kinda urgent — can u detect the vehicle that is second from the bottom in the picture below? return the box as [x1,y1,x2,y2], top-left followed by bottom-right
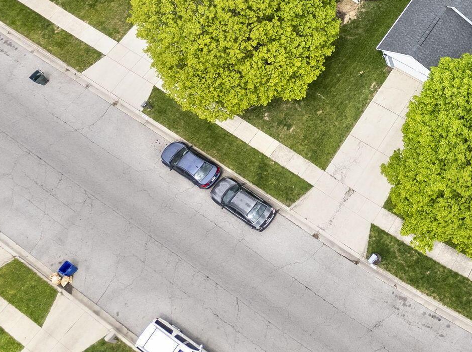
[210,172,282,238]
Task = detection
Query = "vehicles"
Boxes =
[135,319,207,352]
[210,172,282,238]
[159,137,225,196]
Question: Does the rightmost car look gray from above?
Yes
